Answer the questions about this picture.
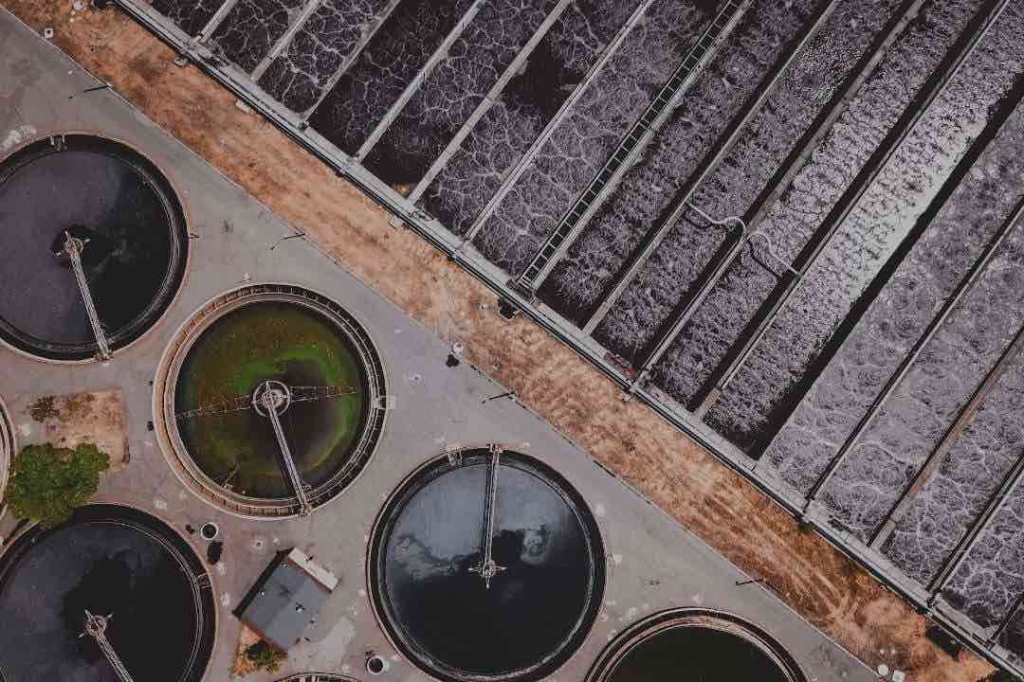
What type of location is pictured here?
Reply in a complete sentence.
This looks like an industrial area.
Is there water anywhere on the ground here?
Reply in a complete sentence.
Yes, water can be seen from above here.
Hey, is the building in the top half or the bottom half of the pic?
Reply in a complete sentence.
Seen from above, the building lies in the bottom half of the view.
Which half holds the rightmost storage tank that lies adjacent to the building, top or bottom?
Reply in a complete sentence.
The rightmost storage tank that lies adjacent to the building is in the bottom half of the image.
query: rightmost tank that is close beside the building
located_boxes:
[367,445,606,682]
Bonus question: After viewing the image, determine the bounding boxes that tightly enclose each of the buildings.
[239,546,340,651]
